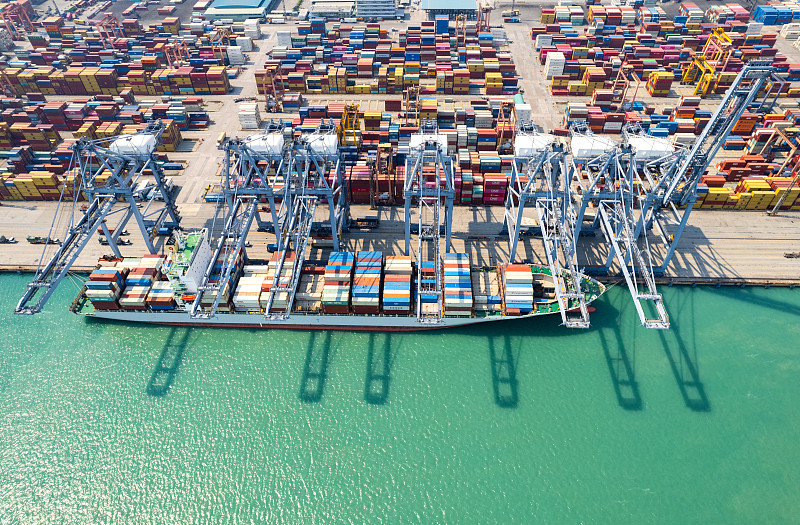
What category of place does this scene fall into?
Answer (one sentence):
This looks like a port.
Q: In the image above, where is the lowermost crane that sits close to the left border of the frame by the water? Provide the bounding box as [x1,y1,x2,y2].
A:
[10,120,188,321]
